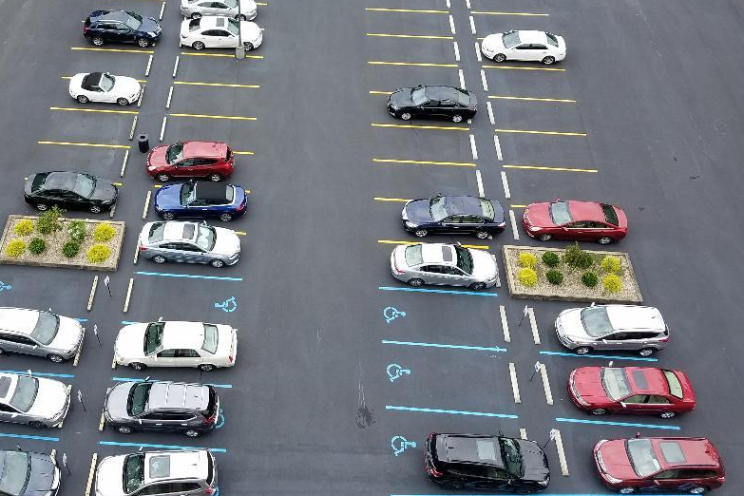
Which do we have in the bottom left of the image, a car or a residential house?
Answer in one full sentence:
You can see a car in the bottom left of the image.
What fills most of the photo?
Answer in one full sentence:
For the most part, this view shows paved ground.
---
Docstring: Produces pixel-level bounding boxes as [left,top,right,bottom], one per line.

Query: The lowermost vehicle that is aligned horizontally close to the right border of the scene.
[593,427,734,495]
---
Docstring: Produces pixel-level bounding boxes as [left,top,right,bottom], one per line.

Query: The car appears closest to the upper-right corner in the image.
[481,29,569,65]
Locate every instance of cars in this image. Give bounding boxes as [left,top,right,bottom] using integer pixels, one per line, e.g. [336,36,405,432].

[569,360,699,420]
[593,427,734,495]
[522,196,631,244]
[388,83,478,123]
[93,444,219,496]
[181,0,258,21]
[146,138,235,181]
[555,301,675,357]
[481,29,569,65]
[422,427,555,494]
[139,220,241,269]
[68,71,140,106]
[400,192,507,239]
[20,170,118,213]
[150,176,250,221]
[393,241,500,291]
[183,17,265,51]
[114,316,238,372]
[102,375,220,438]
[0,305,83,363]
[82,10,160,47]
[0,369,68,429]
